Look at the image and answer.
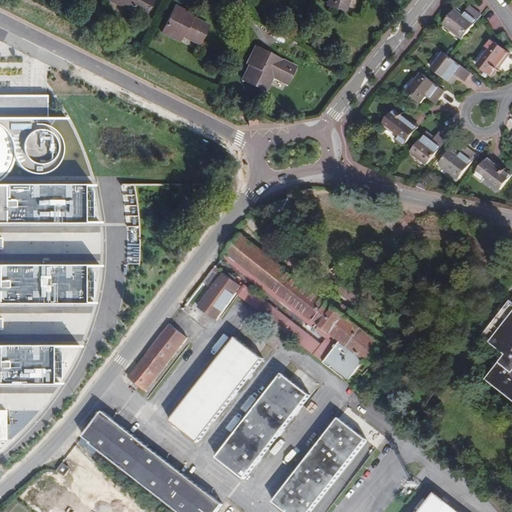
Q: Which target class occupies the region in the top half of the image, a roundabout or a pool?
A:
roundabout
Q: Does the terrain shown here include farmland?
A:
No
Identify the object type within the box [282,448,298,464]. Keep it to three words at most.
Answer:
vehicle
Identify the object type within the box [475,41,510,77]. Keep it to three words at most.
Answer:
house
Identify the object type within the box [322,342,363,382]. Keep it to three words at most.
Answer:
building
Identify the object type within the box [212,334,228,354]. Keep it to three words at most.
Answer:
vehicle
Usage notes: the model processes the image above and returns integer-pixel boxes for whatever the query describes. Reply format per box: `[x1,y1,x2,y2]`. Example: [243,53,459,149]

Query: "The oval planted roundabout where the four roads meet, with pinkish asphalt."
[212,112,347,202]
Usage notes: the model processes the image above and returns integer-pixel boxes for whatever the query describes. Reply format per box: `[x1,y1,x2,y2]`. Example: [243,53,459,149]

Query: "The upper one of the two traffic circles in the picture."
[460,82,512,136]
